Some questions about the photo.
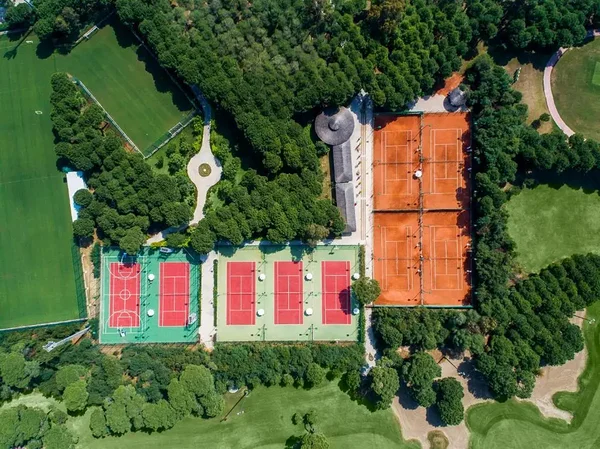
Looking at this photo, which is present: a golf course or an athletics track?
golf course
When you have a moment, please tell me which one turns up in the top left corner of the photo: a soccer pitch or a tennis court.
soccer pitch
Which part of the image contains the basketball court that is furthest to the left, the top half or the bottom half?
bottom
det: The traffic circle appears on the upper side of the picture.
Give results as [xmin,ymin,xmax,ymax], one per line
[187,129,223,222]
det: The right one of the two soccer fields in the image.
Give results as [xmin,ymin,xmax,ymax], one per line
[60,15,196,155]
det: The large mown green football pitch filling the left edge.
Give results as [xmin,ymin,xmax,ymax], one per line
[0,31,81,329]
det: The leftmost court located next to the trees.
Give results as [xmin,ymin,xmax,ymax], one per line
[100,247,151,343]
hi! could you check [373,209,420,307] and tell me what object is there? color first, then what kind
orange tennis court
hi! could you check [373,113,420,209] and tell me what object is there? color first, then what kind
orange tennis court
